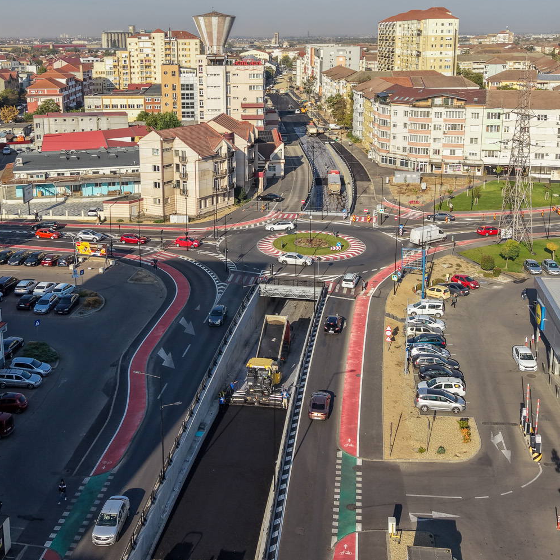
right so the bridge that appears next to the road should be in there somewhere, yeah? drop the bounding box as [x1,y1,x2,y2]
[261,284,320,302]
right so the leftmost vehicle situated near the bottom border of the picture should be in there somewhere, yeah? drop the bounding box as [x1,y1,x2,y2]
[88,499,133,553]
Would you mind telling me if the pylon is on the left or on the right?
right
